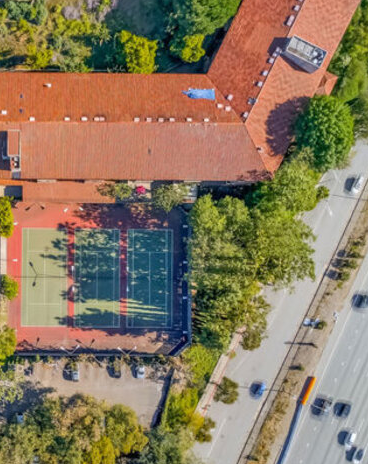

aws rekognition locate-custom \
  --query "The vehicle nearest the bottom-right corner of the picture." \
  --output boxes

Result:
[350,445,365,464]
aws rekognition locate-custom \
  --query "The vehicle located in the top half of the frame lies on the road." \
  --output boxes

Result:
[348,174,364,195]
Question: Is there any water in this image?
No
